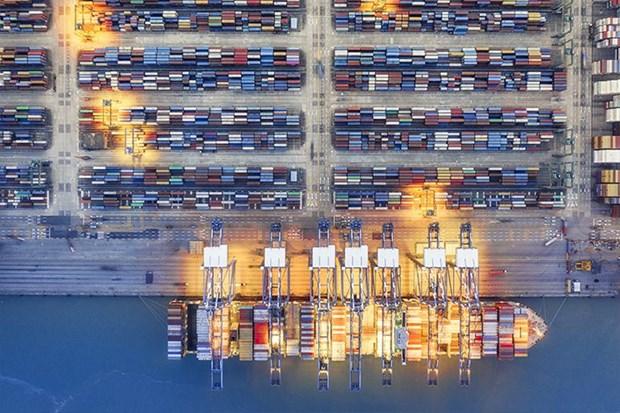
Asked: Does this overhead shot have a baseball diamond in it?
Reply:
No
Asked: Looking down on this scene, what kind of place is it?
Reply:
port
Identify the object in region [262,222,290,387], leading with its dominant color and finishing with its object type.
white container crane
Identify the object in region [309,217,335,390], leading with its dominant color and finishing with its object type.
white container crane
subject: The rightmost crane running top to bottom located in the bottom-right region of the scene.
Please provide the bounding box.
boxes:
[440,222,482,387]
